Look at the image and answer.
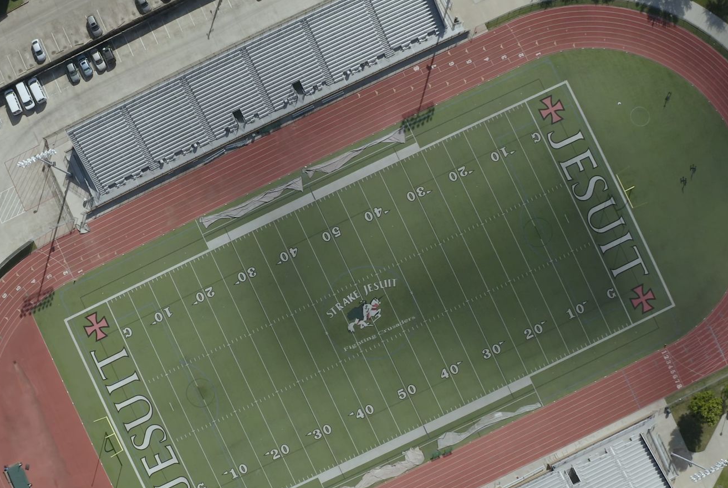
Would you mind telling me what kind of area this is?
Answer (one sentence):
What you see here is a sports ground.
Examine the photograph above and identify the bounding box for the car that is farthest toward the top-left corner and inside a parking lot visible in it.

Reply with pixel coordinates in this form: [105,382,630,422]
[30,37,46,63]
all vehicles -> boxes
[137,0,151,15]
[100,43,117,69]
[15,80,36,111]
[91,48,107,73]
[5,87,25,118]
[29,76,49,106]
[86,12,102,38]
[64,60,81,86]
[77,54,94,80]
[30,37,46,63]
